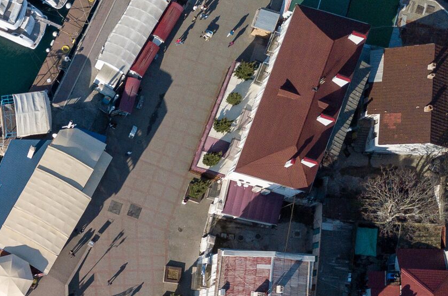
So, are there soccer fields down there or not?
No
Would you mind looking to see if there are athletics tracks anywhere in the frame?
No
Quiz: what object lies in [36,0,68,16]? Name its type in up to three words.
boat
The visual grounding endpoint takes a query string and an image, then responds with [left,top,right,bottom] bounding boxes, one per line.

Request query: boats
[0,0,62,50]
[36,0,68,16]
